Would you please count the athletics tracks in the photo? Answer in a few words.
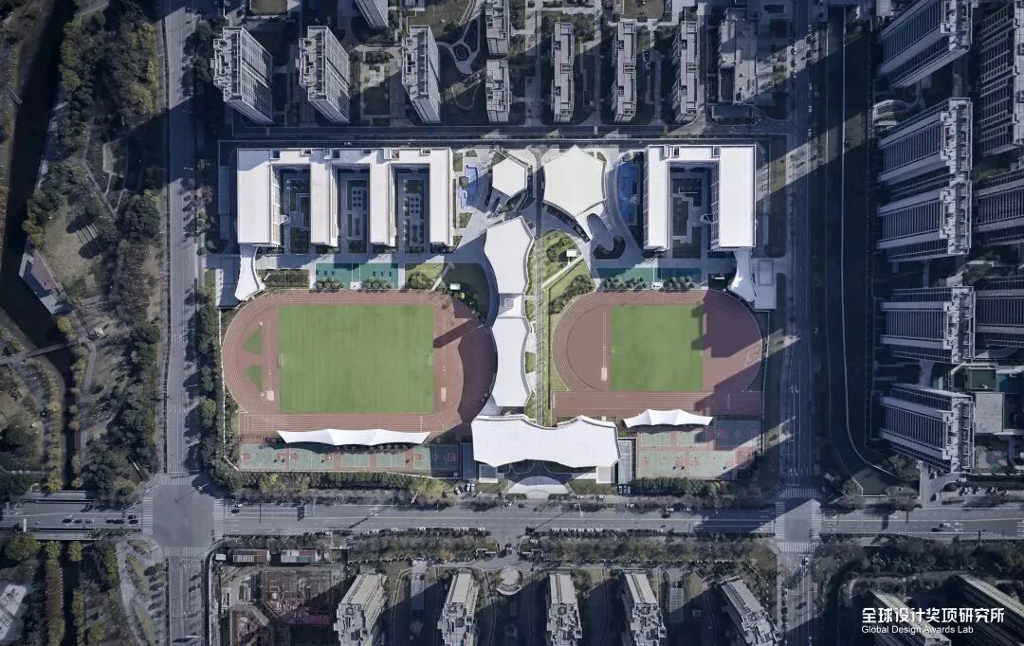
2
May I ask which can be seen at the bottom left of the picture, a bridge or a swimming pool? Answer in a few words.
bridge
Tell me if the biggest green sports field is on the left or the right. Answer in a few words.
left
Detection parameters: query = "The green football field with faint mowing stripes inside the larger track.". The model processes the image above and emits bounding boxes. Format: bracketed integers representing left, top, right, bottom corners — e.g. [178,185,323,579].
[280,305,433,414]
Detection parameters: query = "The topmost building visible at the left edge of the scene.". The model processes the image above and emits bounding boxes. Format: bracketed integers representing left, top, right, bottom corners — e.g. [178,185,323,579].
[19,248,75,314]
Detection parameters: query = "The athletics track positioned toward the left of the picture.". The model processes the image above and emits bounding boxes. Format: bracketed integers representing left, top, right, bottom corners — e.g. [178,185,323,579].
[221,288,496,444]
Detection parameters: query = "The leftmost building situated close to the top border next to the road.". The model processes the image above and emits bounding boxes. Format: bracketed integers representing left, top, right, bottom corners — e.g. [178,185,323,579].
[213,25,274,124]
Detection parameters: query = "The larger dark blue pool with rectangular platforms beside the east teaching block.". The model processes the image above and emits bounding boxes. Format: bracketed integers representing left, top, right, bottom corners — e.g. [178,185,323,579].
[613,159,642,227]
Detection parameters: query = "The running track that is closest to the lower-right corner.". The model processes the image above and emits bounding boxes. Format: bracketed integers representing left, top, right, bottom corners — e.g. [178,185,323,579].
[551,289,763,420]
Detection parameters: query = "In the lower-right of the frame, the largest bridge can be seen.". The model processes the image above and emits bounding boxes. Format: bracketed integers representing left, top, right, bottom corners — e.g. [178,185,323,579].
[853,496,908,544]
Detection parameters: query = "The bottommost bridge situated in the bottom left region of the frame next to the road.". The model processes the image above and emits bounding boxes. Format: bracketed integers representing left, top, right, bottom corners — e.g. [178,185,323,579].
[36,491,91,540]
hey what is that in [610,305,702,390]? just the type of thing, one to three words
sports field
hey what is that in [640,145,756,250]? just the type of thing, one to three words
building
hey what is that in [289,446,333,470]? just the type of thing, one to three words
basketball court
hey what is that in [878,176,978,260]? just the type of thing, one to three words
building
